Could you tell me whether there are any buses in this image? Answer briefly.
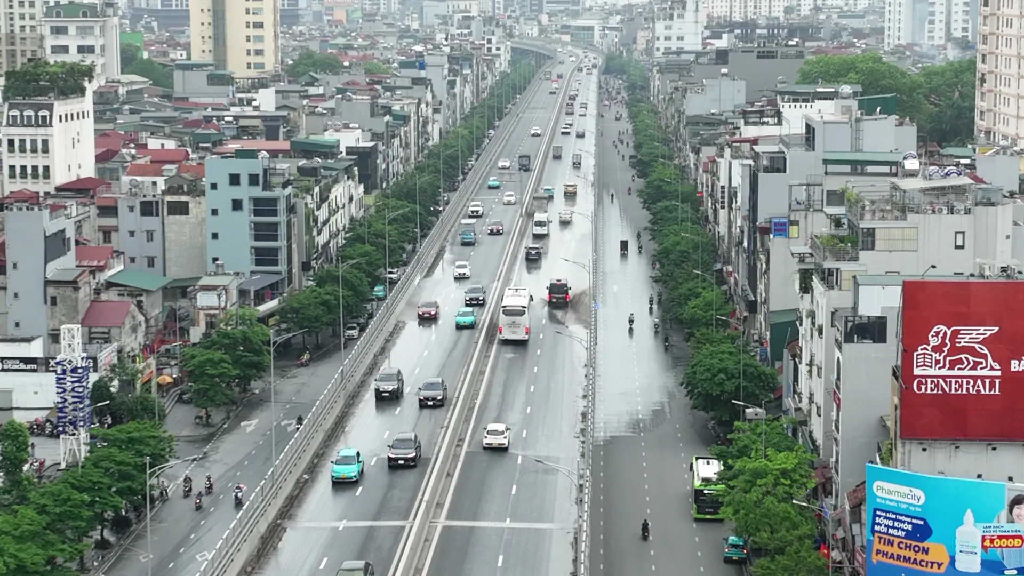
Yes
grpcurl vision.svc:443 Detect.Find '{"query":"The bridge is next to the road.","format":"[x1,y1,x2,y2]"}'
[187,32,607,576]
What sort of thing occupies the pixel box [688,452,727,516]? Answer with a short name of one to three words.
bus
